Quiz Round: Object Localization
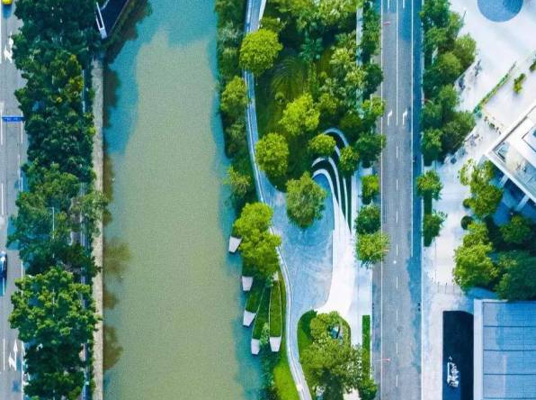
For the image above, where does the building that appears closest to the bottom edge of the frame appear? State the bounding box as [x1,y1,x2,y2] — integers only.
[475,301,536,400]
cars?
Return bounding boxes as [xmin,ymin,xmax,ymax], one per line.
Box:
[0,252,7,279]
[1,0,12,13]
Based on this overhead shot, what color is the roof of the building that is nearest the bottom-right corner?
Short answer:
blue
